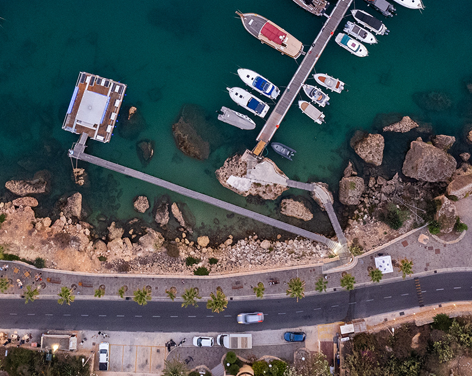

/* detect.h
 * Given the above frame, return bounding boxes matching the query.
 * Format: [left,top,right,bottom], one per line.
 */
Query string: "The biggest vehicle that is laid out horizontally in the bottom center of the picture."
[217,334,252,350]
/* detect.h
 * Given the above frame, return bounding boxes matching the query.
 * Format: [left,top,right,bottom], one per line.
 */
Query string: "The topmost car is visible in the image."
[236,312,263,324]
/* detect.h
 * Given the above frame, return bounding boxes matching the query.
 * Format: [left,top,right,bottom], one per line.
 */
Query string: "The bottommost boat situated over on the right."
[270,143,297,159]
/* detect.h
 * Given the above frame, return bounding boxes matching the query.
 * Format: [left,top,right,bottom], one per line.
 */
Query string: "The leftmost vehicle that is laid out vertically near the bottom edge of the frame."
[97,342,110,370]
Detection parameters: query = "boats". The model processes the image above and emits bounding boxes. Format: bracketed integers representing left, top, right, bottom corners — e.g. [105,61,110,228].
[362,0,396,18]
[302,85,331,107]
[227,87,269,119]
[333,32,370,56]
[313,75,347,93]
[391,0,430,14]
[299,102,325,124]
[338,17,380,44]
[235,11,308,61]
[296,0,329,16]
[352,10,391,38]
[270,143,297,159]
[233,66,282,102]
[218,108,255,128]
